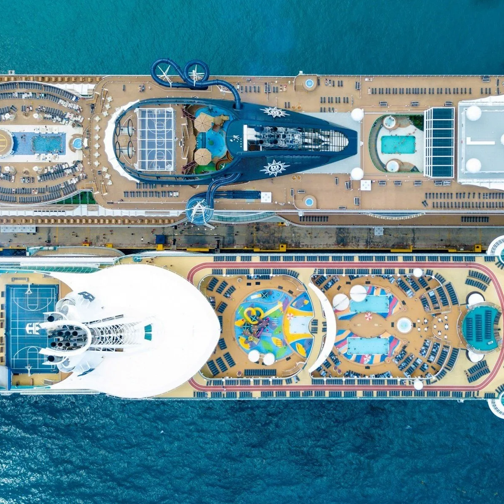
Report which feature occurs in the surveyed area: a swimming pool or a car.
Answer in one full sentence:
This aerial view contains a swimming pool.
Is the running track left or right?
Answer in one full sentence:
You can find the running track on the right side of the picture.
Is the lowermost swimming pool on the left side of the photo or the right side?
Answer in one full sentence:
The lowermost swimming pool sits on the right side.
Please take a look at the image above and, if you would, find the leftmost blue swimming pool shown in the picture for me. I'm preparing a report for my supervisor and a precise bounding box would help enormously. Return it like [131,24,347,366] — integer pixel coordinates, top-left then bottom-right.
[32,135,63,153]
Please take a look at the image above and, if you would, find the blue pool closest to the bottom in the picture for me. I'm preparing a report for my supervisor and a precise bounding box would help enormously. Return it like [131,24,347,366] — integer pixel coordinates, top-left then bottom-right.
[334,330,403,365]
